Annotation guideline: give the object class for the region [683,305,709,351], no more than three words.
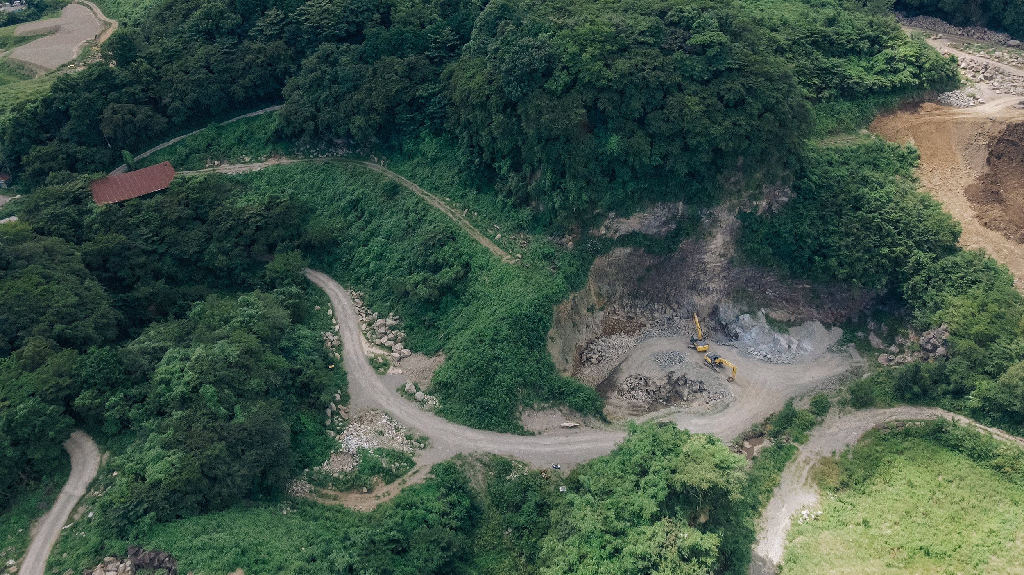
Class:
work vehicle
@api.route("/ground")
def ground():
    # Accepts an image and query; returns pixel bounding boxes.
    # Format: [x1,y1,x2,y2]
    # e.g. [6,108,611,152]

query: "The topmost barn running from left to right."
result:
[91,160,181,215]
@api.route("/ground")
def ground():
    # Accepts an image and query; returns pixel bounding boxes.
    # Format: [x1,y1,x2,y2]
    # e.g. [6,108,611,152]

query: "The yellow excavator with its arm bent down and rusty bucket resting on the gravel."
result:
[701,351,740,379]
